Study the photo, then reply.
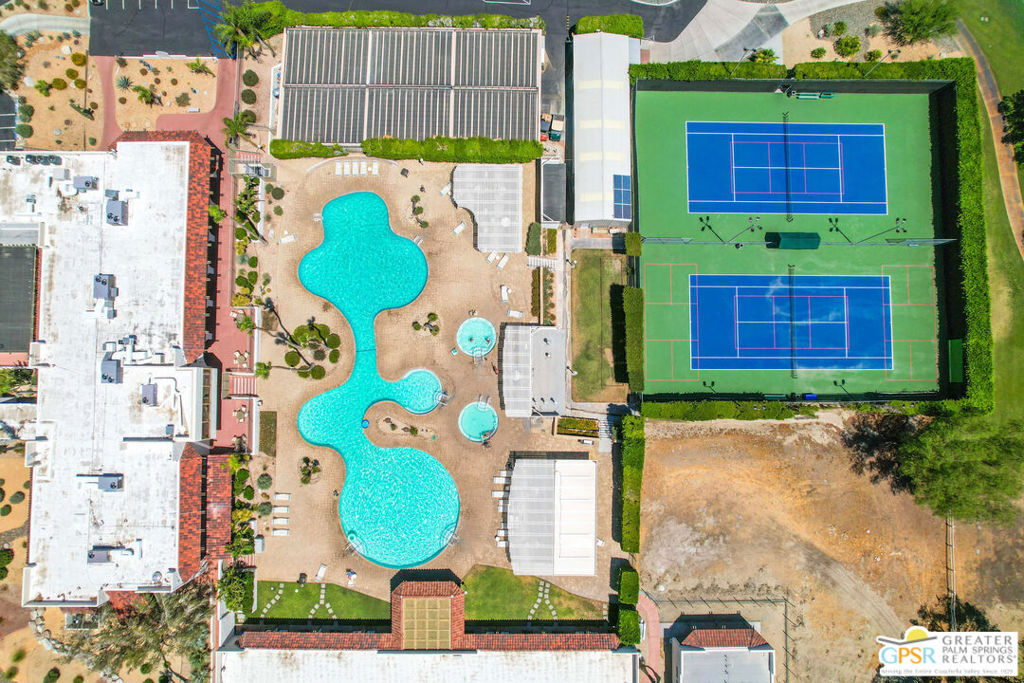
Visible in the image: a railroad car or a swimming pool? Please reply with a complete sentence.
Looking from above, you can make out a swimming pool.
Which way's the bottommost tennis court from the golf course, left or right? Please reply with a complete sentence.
The golf course has the bottommost tennis court on its left side.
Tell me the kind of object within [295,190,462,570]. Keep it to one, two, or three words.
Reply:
swimming pool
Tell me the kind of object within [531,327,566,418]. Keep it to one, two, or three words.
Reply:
building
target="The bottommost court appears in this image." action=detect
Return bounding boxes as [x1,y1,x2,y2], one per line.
[640,240,946,406]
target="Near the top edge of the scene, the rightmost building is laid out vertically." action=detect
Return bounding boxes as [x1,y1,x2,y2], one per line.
[572,32,641,232]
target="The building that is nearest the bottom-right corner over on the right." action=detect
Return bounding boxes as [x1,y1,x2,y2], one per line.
[666,627,775,683]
